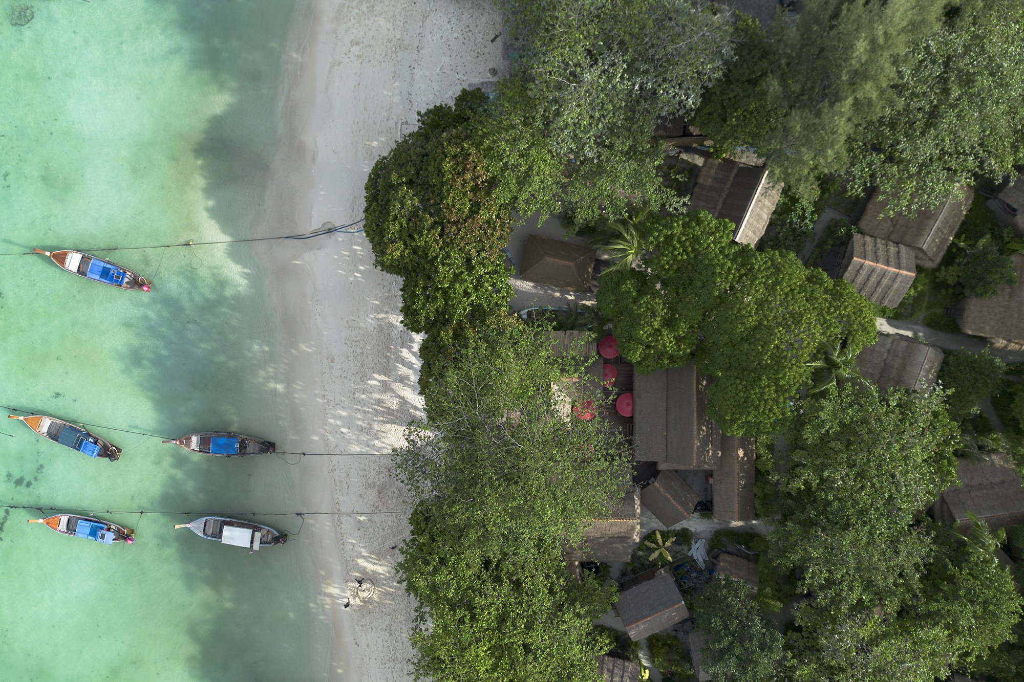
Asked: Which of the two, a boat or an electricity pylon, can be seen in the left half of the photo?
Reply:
boat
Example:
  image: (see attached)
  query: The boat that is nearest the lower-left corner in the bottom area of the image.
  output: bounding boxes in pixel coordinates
[27,514,138,547]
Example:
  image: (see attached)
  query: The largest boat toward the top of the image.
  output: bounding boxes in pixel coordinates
[33,248,156,297]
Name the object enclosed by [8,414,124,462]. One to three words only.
boat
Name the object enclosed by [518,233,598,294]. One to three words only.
shed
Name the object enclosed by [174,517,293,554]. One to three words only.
boat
